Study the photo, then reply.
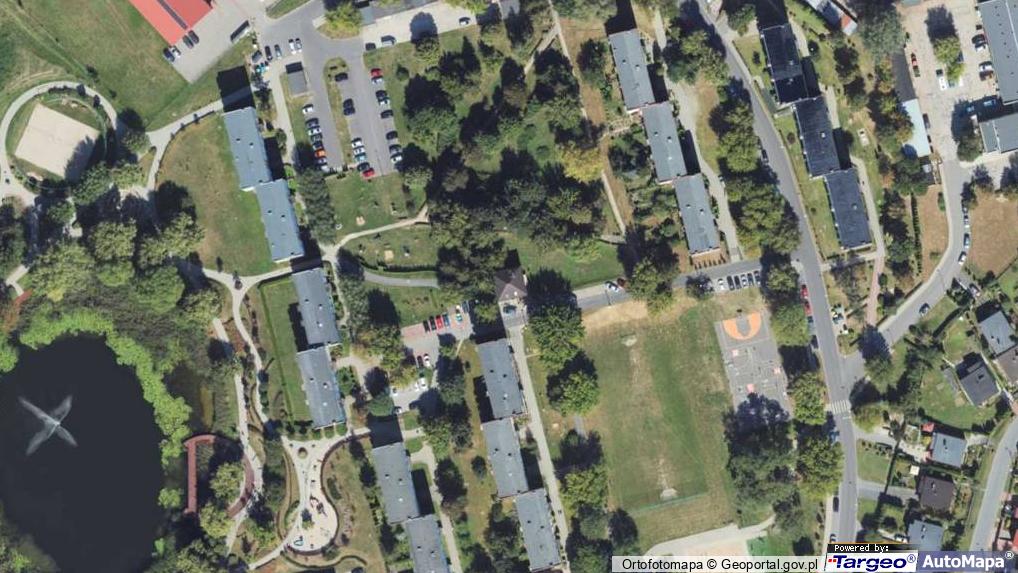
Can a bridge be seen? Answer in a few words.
No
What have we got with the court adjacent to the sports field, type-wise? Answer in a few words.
basketball court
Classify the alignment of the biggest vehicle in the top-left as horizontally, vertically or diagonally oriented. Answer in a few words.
diagonally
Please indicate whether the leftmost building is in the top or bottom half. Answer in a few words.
top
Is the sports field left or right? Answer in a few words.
right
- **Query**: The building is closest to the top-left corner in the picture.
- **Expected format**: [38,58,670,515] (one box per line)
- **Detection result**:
[130,0,212,45]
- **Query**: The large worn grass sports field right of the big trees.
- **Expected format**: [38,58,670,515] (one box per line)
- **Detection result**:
[589,308,740,517]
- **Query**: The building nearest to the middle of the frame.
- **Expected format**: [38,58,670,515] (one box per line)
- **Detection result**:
[494,269,527,301]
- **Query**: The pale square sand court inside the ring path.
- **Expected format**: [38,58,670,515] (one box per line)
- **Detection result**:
[15,102,98,178]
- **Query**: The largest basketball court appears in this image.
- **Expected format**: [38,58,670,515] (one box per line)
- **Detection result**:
[715,310,796,440]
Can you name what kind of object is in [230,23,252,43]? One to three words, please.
vehicle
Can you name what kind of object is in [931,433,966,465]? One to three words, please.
house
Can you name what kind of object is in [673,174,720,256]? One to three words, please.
building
